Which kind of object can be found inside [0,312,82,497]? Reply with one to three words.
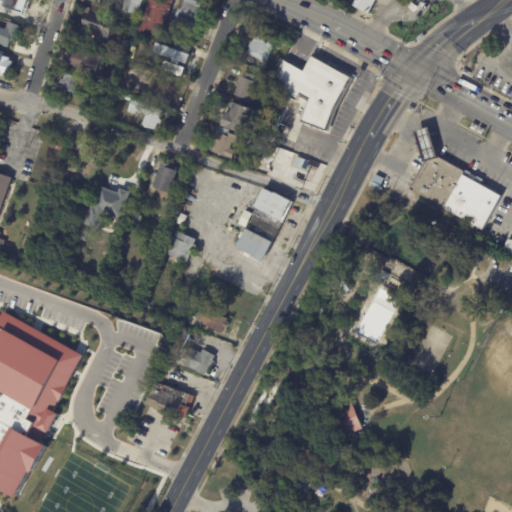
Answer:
building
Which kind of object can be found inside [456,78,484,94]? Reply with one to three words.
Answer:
vehicle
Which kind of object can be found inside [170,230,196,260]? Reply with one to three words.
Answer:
house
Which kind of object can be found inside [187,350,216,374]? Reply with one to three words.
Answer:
house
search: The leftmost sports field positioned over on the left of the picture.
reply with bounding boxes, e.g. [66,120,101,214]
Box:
[42,452,134,512]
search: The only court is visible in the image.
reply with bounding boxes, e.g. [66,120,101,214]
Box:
[416,326,453,366]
